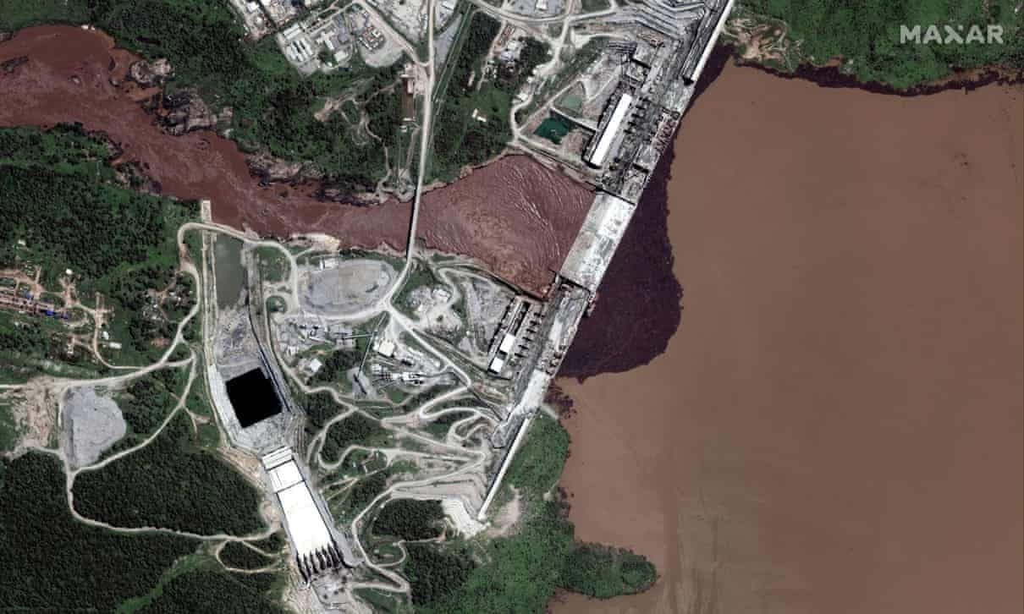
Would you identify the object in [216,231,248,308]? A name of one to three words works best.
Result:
pond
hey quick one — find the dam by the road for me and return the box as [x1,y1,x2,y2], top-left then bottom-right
[476,0,734,520]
